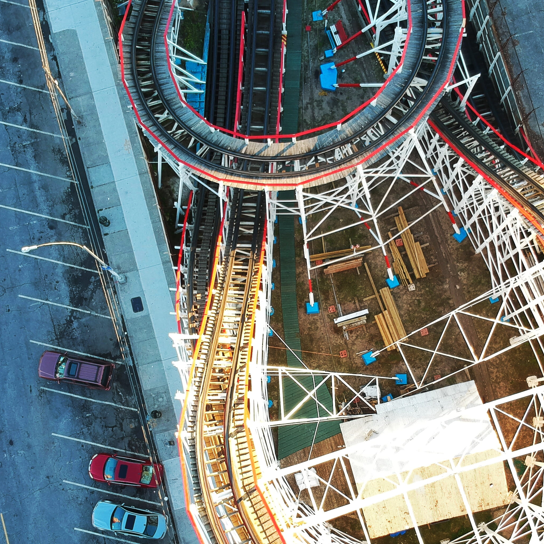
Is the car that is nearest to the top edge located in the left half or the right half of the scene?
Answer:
left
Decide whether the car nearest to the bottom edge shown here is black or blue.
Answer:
blue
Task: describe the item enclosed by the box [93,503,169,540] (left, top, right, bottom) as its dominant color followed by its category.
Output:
blue car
